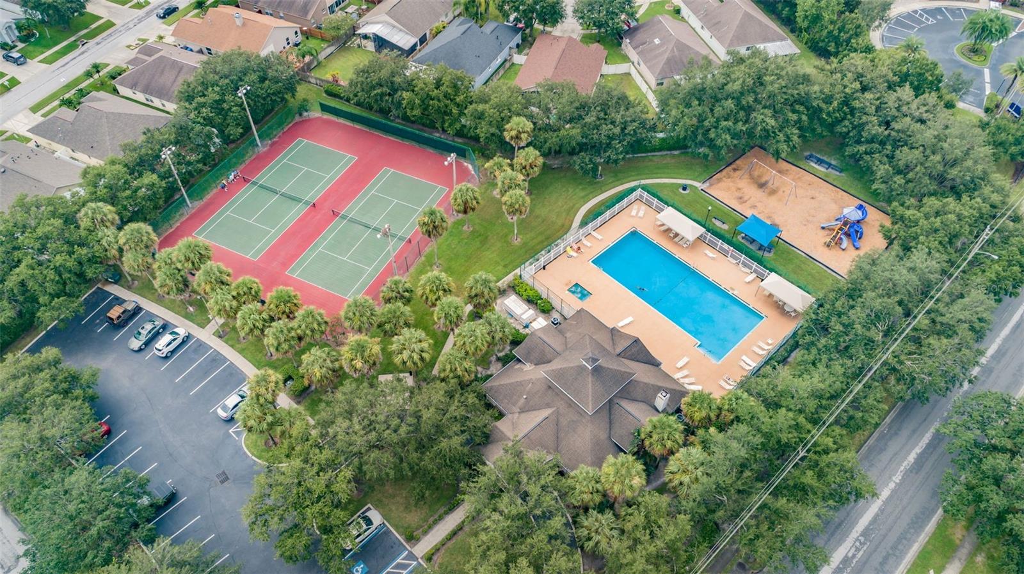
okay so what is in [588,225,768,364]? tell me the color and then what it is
blue swimming pool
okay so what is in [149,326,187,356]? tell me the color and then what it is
white car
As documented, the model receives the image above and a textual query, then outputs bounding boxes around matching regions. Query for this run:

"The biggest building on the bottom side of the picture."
[481,307,689,479]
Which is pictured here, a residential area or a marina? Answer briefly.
residential area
